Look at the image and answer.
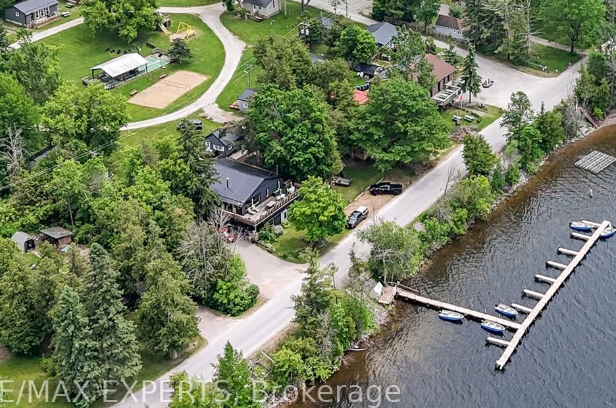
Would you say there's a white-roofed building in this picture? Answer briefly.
Yes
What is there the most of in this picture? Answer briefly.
trees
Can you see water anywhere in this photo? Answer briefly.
Yes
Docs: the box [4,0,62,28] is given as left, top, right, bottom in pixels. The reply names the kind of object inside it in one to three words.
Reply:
house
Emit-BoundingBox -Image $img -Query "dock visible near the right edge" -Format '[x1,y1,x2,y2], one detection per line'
[399,218,613,373]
